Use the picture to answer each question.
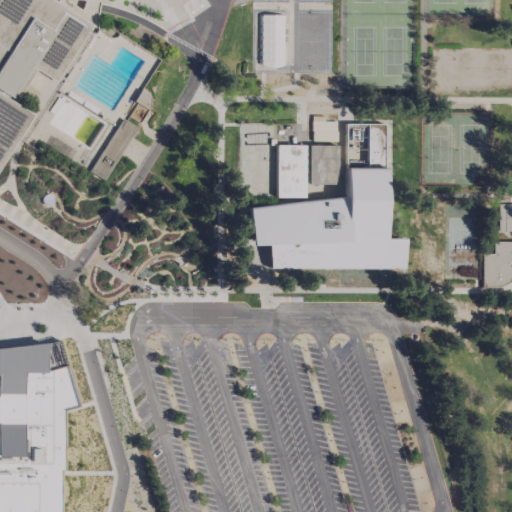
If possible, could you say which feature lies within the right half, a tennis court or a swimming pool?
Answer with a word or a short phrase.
tennis court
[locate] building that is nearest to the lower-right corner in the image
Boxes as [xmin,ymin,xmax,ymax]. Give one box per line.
[483,242,512,288]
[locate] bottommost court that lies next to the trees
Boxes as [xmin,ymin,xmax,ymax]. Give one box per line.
[446,204,479,277]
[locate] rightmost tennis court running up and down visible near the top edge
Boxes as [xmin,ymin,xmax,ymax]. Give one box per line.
[380,14,414,86]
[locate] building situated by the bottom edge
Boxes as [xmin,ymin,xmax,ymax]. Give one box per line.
[0,342,80,512]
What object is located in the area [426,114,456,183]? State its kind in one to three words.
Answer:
tennis court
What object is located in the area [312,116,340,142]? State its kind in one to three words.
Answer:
building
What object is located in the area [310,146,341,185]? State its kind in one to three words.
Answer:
building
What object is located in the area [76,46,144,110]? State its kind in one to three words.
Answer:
swimming pool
